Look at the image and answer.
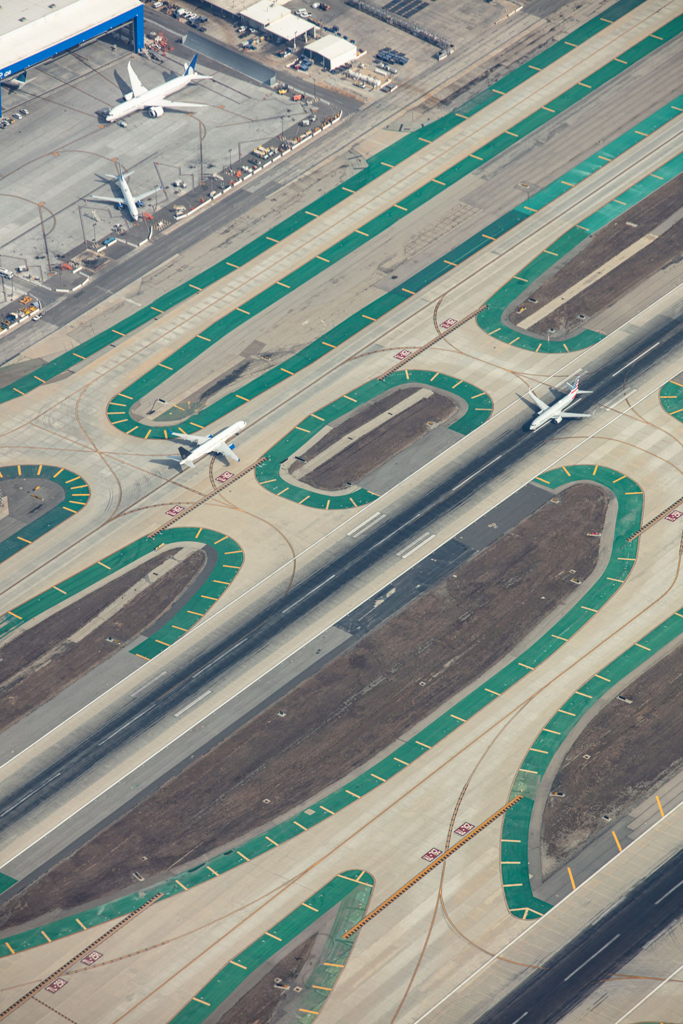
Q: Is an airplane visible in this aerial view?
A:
Yes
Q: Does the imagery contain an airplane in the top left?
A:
Yes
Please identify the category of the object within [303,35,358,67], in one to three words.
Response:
shed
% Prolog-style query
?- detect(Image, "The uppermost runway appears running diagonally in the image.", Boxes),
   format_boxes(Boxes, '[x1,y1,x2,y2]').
[0,284,683,866]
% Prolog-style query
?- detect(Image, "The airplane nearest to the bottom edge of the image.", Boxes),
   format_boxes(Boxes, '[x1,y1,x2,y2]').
[167,423,246,469]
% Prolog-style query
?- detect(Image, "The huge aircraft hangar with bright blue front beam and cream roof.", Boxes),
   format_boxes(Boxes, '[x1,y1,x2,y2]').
[0,0,145,119]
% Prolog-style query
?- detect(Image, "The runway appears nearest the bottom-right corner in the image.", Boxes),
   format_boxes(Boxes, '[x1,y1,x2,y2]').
[417,810,683,1024]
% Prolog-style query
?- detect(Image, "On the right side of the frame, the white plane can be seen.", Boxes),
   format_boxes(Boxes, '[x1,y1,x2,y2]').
[528,371,594,430]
